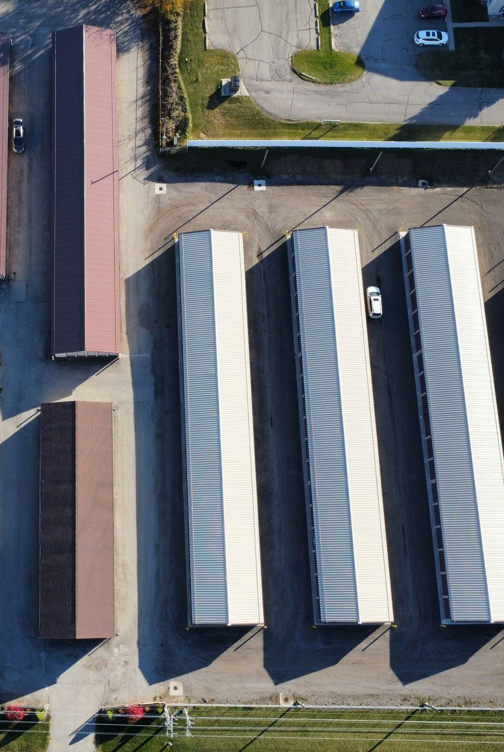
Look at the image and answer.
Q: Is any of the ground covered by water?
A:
No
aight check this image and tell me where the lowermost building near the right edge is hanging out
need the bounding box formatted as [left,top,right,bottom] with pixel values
[397,223,504,623]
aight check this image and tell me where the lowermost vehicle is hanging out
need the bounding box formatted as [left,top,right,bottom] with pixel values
[365,286,382,319]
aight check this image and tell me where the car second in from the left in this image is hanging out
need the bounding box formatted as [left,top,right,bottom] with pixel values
[331,0,360,14]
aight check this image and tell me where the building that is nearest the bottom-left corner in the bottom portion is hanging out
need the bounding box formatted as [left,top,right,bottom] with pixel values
[37,400,117,639]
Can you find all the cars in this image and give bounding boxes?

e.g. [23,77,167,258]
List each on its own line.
[413,31,448,47]
[365,286,382,319]
[419,3,448,20]
[11,119,25,155]
[331,0,360,14]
